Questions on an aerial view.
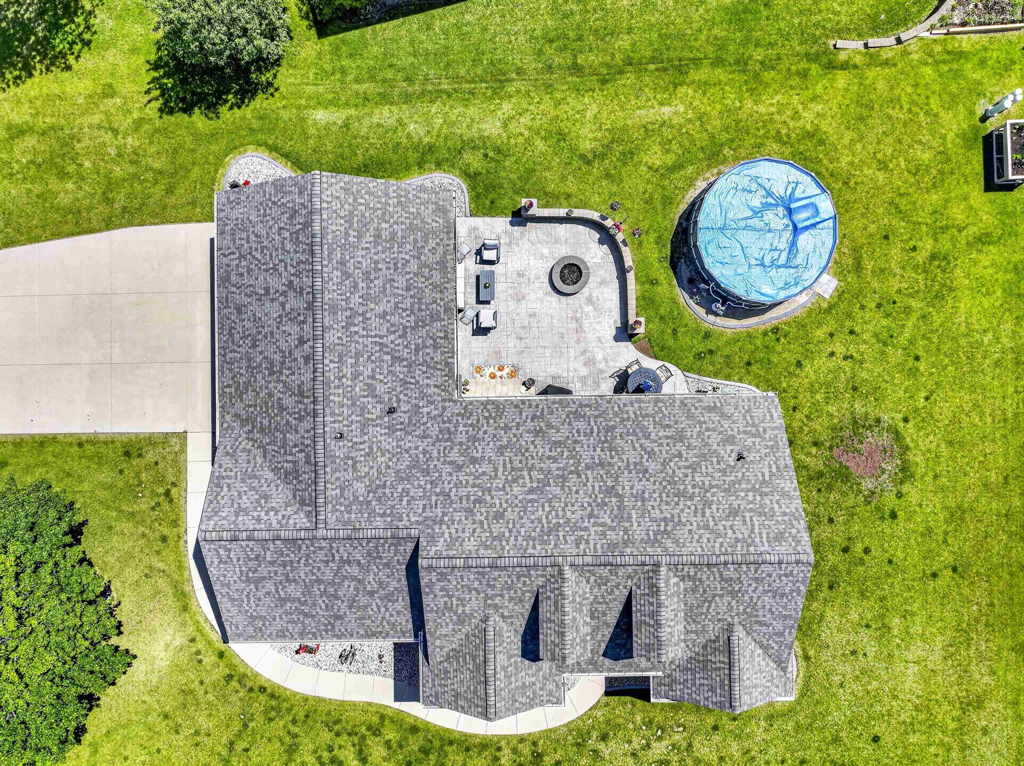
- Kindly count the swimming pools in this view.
1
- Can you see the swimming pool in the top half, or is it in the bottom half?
top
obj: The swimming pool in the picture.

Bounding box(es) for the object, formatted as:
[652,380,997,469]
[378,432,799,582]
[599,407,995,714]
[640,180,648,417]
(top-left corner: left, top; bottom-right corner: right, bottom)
[684,156,838,311]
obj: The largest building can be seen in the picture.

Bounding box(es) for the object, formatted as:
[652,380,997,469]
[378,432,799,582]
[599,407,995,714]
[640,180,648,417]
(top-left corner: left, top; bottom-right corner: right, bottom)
[197,170,814,723]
